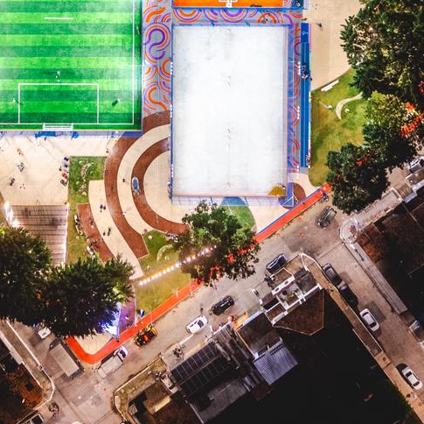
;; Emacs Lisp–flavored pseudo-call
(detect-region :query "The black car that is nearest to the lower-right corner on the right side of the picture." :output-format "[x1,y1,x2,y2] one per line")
[339,283,361,309]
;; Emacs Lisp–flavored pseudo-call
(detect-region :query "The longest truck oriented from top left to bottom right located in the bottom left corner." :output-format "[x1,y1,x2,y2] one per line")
[47,338,82,385]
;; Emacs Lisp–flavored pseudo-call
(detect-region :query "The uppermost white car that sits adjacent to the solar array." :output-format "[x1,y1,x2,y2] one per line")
[186,315,209,337]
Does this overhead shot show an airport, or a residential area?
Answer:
residential area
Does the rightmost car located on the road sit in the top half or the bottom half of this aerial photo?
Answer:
bottom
